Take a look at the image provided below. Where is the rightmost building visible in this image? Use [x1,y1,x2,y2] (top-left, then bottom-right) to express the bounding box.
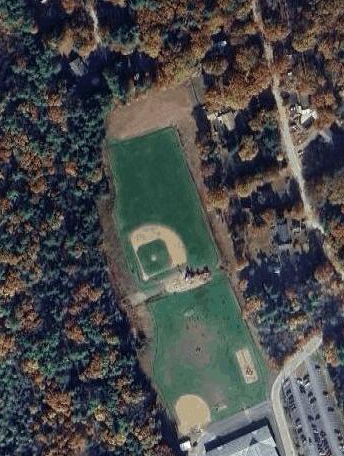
[290,105,316,128]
